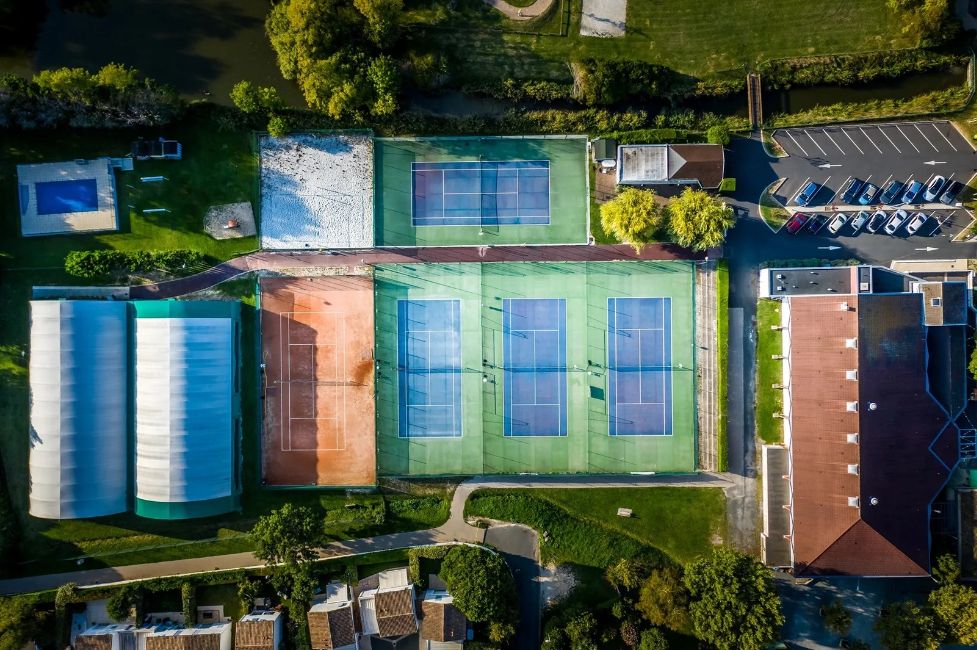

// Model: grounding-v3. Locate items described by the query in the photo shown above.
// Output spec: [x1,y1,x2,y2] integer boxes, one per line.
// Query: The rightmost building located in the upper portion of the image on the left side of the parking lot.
[615,143,725,189]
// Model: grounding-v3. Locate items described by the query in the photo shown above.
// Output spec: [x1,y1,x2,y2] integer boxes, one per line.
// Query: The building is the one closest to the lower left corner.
[73,621,125,650]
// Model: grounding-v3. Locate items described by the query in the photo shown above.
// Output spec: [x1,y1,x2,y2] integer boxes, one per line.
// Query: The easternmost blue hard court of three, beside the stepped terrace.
[589,261,695,472]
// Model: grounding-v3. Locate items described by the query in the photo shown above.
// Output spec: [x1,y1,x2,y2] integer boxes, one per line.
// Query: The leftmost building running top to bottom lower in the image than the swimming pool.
[29,299,129,519]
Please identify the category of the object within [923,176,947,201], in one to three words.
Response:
car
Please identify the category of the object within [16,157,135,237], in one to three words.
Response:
swimming pool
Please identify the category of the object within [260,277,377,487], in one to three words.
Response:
tennis court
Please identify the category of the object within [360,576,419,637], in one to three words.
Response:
house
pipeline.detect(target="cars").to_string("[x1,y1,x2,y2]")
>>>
[805,212,827,236]
[923,176,947,201]
[904,211,927,235]
[794,181,818,206]
[825,211,847,234]
[849,210,870,232]
[879,178,904,204]
[900,179,924,204]
[858,182,879,205]
[786,212,809,235]
[883,209,908,235]
[940,179,965,204]
[839,177,864,203]
[864,209,889,234]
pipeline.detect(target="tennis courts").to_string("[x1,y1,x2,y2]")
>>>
[375,136,588,246]
[260,277,377,487]
[589,261,695,472]
[483,262,590,473]
[375,262,484,475]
